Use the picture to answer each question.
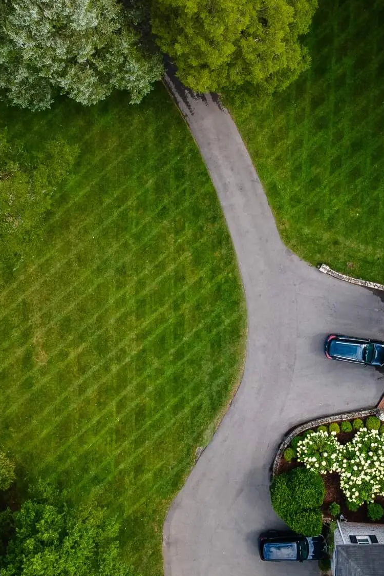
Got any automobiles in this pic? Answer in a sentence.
Yes, an automobile appears in the view.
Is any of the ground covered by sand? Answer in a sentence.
No, there is no sand in the image.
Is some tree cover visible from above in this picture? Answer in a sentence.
Yes, the picture does contain tree cover.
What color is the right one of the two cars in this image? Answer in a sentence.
The right one of the two cars is blue.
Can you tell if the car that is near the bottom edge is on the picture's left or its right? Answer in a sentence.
The car that is near the bottom edge is on the right side of the image.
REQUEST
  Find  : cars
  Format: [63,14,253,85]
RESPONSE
[259,531,324,565]
[324,334,384,365]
